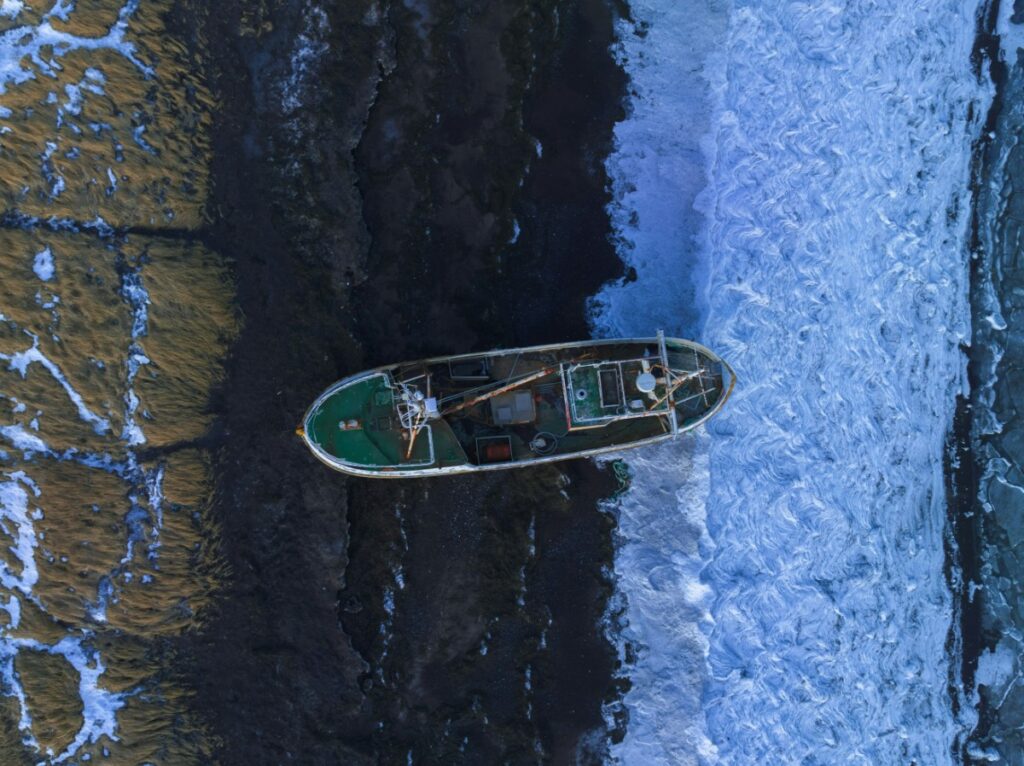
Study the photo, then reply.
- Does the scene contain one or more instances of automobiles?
No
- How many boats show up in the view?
one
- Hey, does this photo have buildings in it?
No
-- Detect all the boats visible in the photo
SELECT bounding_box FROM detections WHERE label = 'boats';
[296,329,736,478]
